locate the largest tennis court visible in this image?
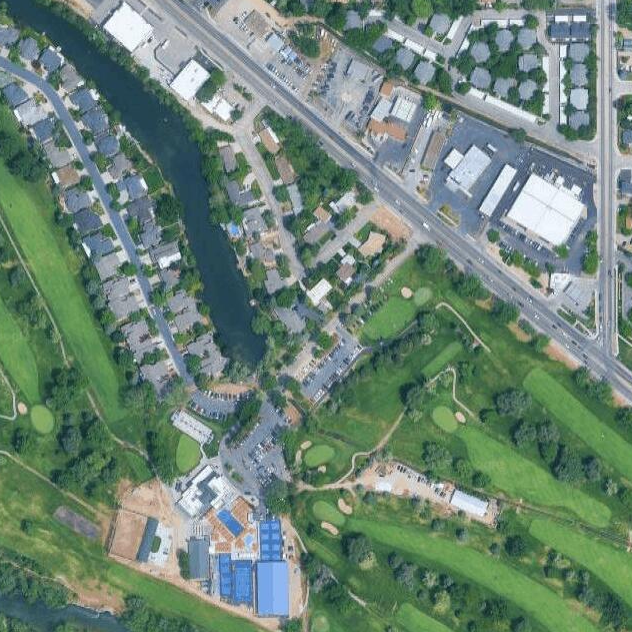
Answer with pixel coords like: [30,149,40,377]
[234,560,252,601]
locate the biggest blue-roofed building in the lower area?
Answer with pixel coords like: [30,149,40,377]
[258,562,289,618]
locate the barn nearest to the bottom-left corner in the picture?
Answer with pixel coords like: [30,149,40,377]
[137,518,159,562]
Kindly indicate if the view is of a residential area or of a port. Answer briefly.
residential area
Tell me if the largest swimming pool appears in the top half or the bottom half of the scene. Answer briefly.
bottom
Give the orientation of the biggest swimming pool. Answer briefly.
at an angle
